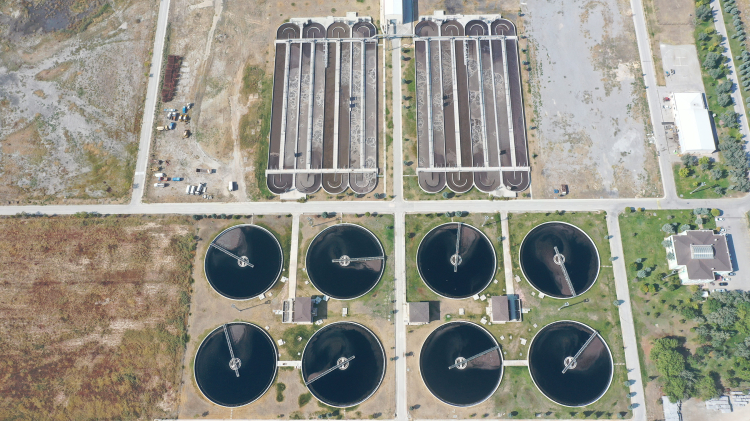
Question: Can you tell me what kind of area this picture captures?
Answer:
industrial area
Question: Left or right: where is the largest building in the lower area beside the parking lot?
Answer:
right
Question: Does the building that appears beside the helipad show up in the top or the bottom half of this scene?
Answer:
top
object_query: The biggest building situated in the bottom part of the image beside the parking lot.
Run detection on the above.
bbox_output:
[658,230,733,285]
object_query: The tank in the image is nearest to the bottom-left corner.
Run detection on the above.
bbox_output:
[194,321,278,408]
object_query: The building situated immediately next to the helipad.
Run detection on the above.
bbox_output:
[671,92,716,154]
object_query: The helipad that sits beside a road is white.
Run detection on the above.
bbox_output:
[658,44,703,91]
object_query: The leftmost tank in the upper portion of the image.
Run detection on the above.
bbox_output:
[266,10,377,201]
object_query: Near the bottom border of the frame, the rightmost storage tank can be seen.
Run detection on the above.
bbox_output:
[527,321,614,407]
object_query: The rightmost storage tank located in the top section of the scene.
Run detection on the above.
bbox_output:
[413,8,530,198]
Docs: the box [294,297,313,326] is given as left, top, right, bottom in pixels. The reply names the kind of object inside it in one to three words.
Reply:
building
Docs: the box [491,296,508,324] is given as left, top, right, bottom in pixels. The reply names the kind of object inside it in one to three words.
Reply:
building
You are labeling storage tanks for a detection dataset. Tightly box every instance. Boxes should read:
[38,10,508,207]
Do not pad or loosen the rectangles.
[417,222,497,299]
[413,8,530,198]
[305,223,385,300]
[194,321,278,408]
[419,321,504,407]
[266,10,377,201]
[301,321,385,407]
[527,321,614,407]
[519,221,601,299]
[204,224,283,301]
